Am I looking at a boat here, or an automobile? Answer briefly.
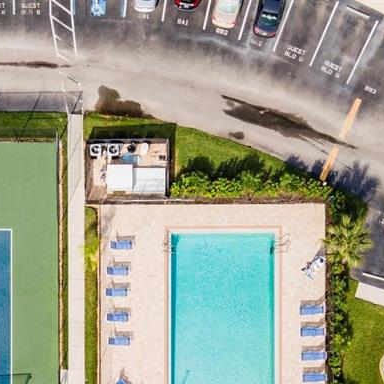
automobile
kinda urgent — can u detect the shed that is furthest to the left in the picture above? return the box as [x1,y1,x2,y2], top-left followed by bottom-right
[107,165,132,194]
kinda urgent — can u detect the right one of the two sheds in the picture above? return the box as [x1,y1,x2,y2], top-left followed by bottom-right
[135,168,165,194]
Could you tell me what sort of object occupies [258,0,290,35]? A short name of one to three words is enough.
car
